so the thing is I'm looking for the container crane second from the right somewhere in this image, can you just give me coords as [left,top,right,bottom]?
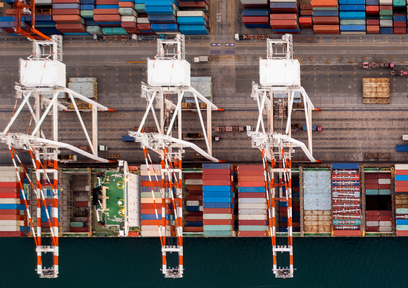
[131,33,231,281]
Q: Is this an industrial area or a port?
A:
port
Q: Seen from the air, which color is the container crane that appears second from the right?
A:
white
